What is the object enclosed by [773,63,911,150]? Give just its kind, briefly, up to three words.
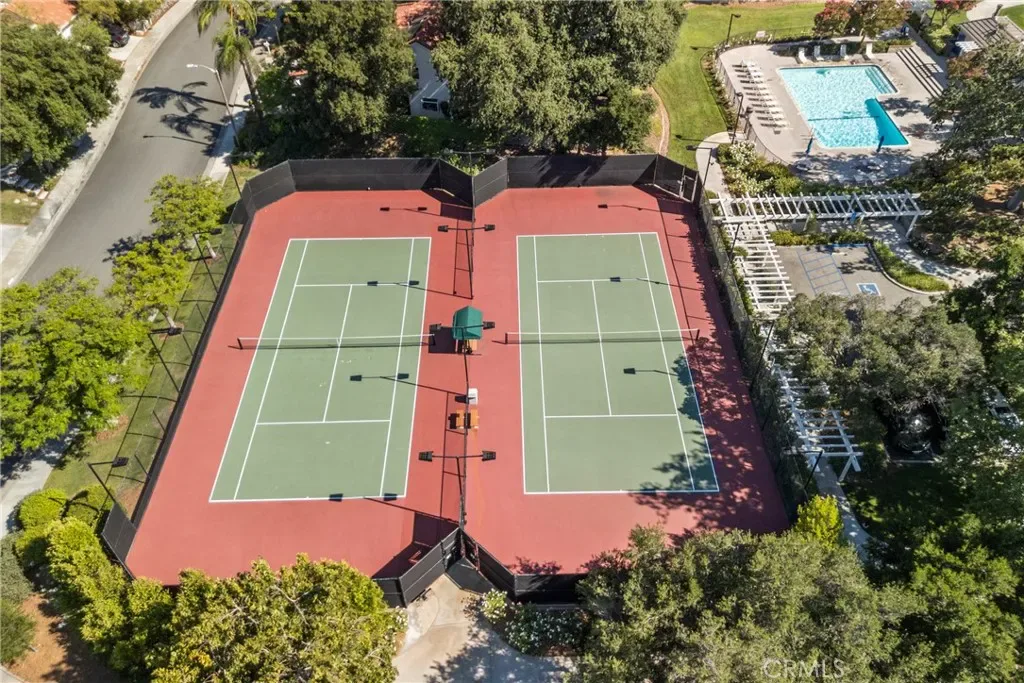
swimming pool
